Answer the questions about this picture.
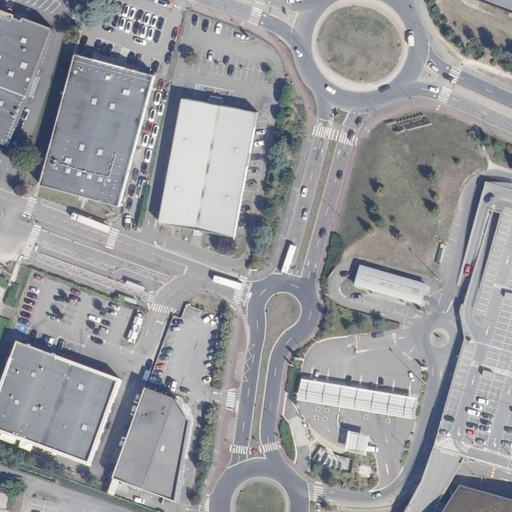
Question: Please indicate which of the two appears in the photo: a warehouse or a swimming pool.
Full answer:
There is a warehouse in the scene.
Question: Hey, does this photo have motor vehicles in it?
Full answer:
Yes, there is a motor vehicle in the image.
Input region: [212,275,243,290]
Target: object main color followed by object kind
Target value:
white vehicle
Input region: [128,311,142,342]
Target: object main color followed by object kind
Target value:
white vehicle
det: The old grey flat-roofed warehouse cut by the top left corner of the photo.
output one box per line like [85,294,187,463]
[0,10,56,148]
